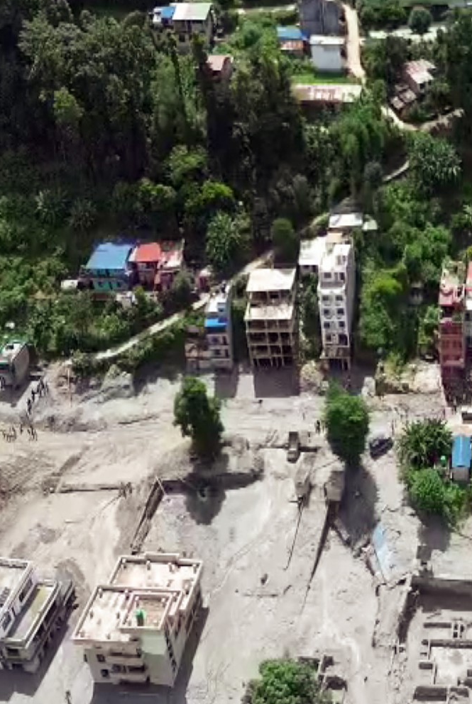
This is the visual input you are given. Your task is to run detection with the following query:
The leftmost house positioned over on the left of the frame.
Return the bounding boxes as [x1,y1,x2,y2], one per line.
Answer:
[0,332,37,384]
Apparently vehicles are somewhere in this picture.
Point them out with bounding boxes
[365,436,394,455]
[454,405,472,418]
